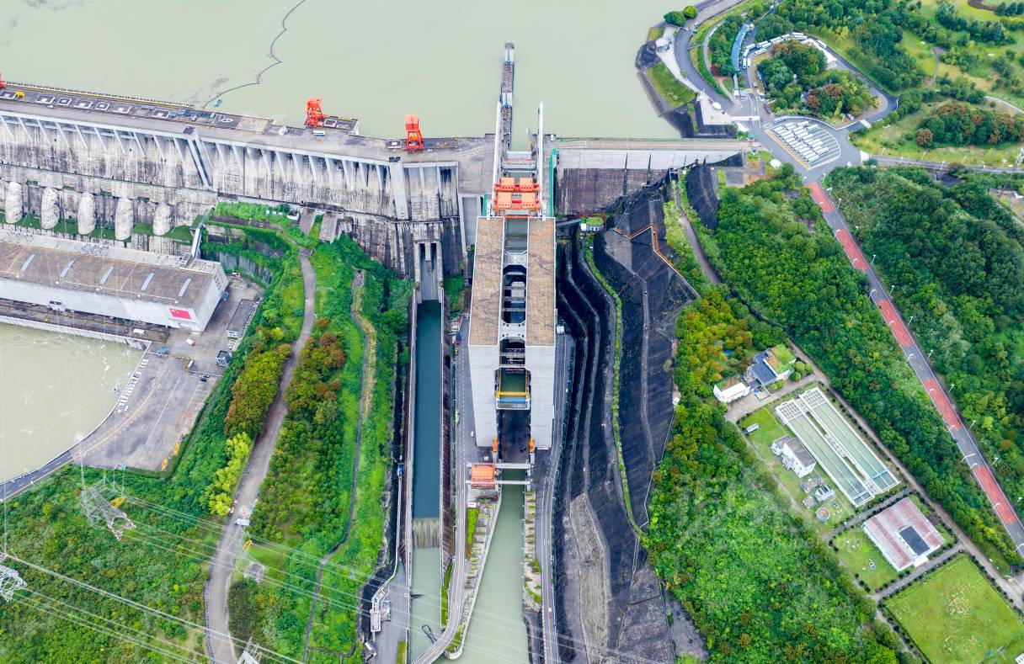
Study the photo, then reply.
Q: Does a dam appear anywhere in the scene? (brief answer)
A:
Yes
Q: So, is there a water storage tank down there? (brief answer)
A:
Yes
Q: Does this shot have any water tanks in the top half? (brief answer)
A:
No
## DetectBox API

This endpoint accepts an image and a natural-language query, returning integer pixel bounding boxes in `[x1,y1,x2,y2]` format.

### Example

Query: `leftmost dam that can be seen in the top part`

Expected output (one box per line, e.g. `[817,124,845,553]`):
[0,82,464,301]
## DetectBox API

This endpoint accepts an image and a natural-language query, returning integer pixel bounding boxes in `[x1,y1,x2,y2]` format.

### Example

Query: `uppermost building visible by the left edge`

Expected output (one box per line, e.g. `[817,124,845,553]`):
[0,231,230,332]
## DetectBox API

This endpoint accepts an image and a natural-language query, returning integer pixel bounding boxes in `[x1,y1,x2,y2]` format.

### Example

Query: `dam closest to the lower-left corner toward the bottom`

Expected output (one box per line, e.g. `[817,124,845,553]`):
[412,518,442,546]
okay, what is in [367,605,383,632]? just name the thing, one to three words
building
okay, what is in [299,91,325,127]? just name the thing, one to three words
container crane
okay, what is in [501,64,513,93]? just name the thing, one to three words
pier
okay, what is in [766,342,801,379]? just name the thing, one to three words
building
